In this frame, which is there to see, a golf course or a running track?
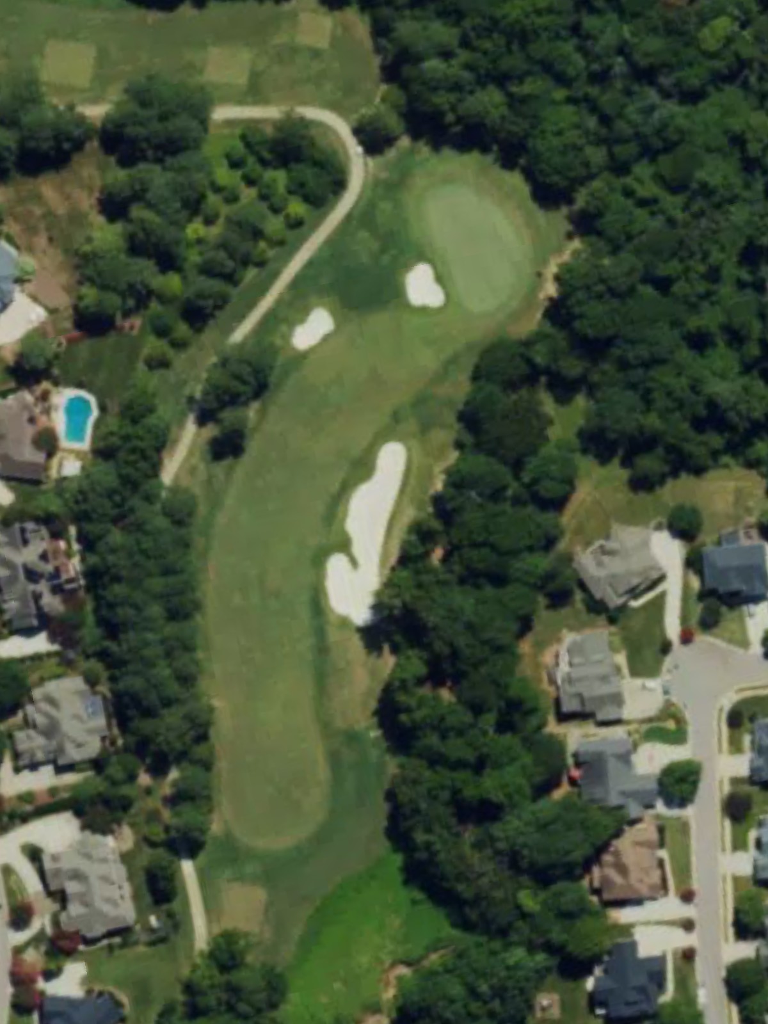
golf course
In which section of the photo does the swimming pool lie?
left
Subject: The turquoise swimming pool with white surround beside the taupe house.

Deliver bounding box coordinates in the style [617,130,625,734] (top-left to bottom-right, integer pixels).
[51,387,98,449]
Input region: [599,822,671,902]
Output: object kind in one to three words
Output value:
house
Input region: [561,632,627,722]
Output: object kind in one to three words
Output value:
house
